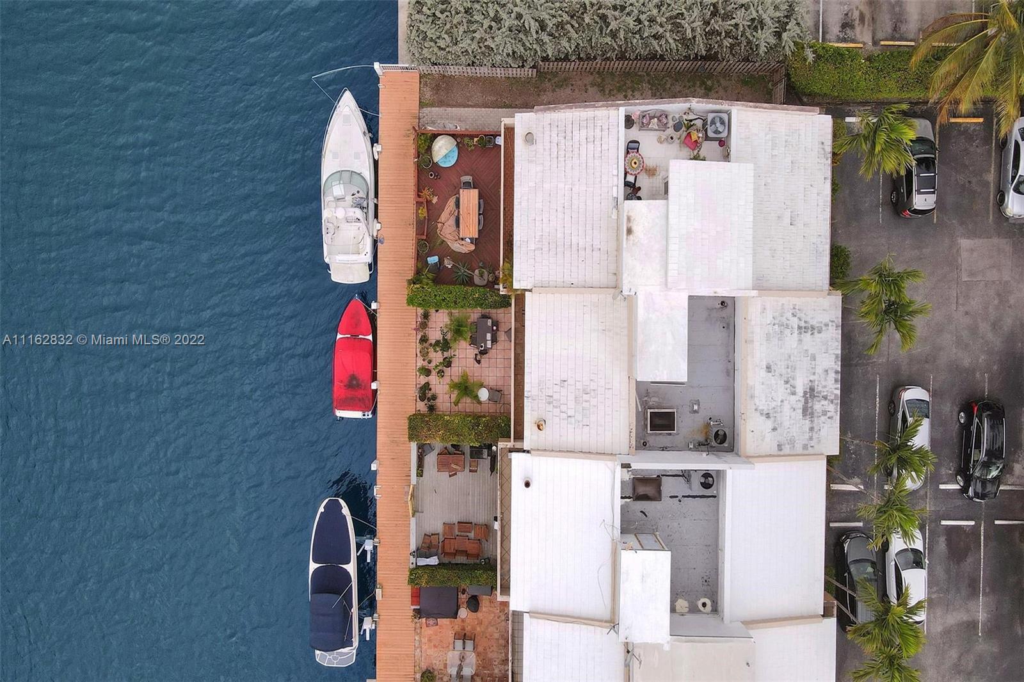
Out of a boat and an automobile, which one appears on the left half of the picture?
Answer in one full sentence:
It is a boat that can be seen on the left half of the picture.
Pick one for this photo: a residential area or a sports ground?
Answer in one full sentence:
The area seen from above is a residential area.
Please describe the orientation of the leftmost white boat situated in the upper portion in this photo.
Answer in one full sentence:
In this picture, the leftmost white boat situated in the upper portion is oriented vertically.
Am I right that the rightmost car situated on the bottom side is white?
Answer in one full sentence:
No, from above the rightmost car situated on the bottom side looks black.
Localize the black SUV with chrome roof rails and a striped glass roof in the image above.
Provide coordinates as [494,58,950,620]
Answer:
[954,398,1013,500]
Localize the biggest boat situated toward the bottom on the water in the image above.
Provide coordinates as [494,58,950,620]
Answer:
[309,494,361,666]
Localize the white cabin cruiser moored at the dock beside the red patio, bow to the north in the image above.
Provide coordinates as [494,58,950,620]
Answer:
[319,79,377,284]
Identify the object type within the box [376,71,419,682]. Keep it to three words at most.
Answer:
pier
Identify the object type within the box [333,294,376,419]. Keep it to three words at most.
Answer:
boat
